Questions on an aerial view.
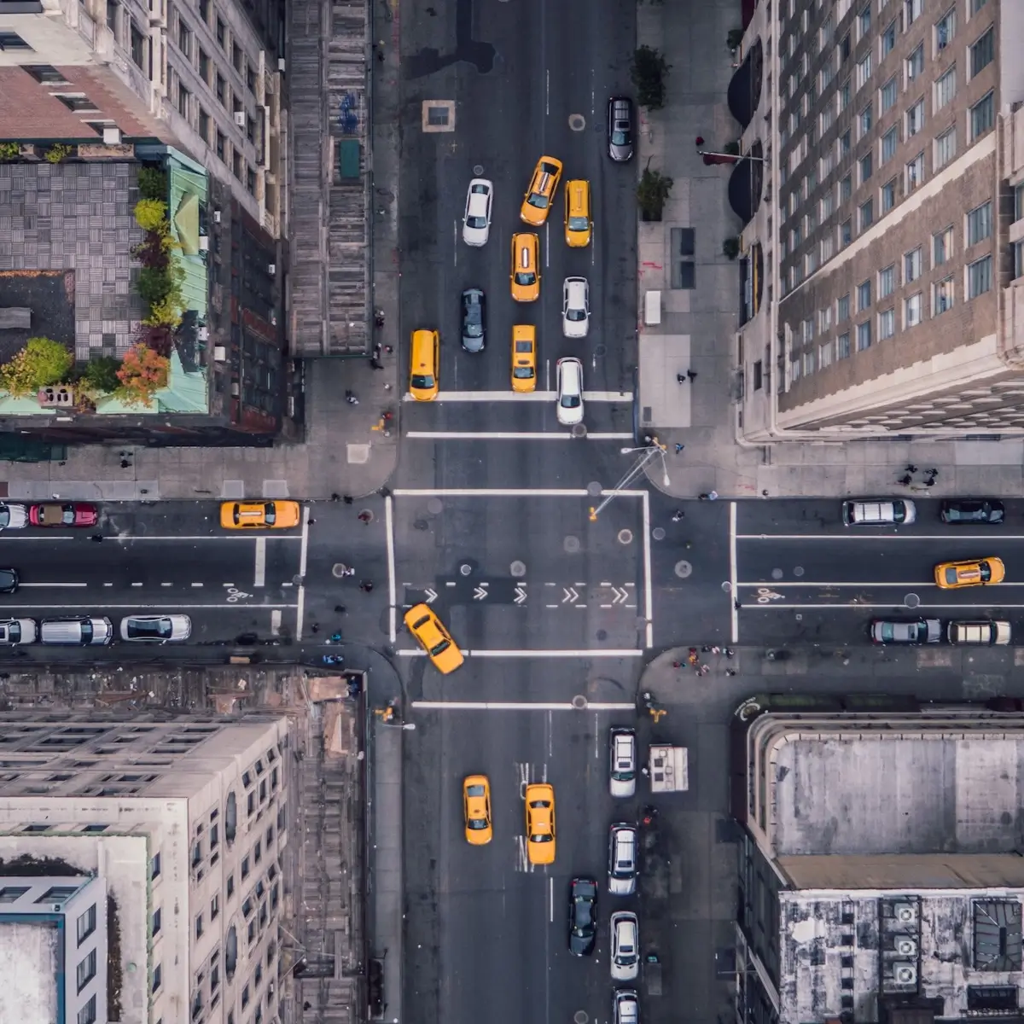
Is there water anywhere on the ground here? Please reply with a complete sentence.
No, water can't be seen anywhere here.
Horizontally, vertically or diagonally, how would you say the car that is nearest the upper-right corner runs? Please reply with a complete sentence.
The car that is nearest the upper-right corner has been laid out vertically relative to the frame.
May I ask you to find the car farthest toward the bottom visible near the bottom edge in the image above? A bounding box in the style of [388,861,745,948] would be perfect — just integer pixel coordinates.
[612,985,641,1024]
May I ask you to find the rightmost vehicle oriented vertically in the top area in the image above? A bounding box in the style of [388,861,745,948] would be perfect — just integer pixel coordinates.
[606,96,637,165]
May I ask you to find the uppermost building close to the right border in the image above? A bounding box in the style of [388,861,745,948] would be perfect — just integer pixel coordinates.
[726,0,1024,449]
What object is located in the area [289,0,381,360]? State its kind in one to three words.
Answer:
shed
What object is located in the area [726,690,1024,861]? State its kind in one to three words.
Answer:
building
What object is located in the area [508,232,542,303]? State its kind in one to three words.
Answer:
car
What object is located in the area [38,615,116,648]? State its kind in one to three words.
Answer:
car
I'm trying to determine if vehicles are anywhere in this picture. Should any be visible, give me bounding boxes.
[560,275,593,340]
[612,985,641,1024]
[522,156,560,229]
[562,179,594,249]
[508,325,539,393]
[461,178,494,249]
[524,781,558,864]
[606,96,637,165]
[607,725,640,797]
[937,496,1004,527]
[0,615,41,648]
[0,499,36,532]
[31,500,102,530]
[567,874,600,954]
[867,616,942,648]
[943,617,1011,648]
[221,498,302,531]
[840,496,915,528]
[0,565,25,596]
[120,612,194,644]
[508,232,542,303]
[553,357,586,425]
[609,907,641,981]
[38,615,116,648]
[607,819,640,894]
[407,328,441,403]
[462,772,495,845]
[930,555,1005,589]
[408,602,461,673]
[457,288,488,353]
